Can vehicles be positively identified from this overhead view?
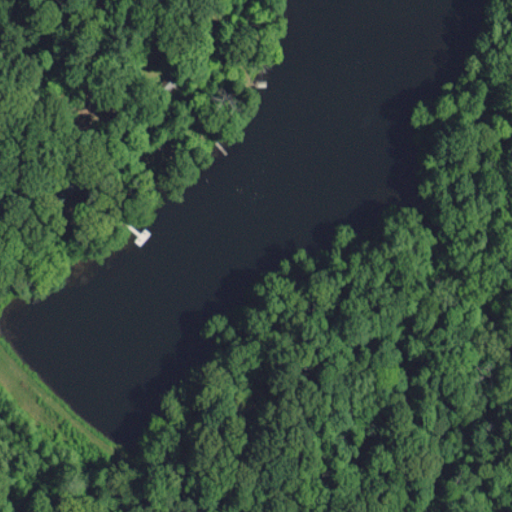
No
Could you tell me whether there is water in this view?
Yes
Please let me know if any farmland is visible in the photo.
No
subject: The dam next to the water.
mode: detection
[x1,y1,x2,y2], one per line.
[0,344,118,496]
